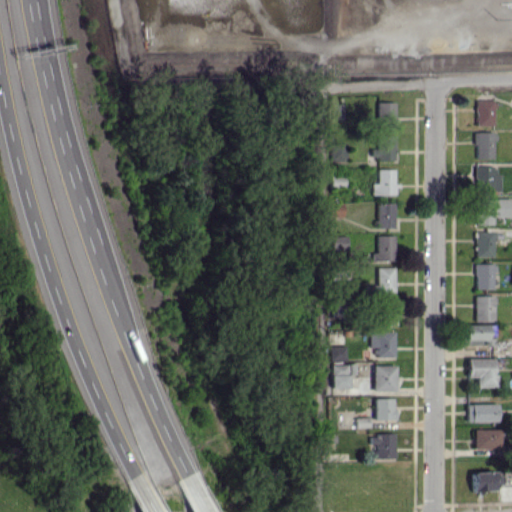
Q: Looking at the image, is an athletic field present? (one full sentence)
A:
No, the frame has no athletic field in it.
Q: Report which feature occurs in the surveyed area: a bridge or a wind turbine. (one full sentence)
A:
Looking from above, you can make out a bridge.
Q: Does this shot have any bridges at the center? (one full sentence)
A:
No, no bridge appears at the center.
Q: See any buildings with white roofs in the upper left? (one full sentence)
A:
No, I can find no building with a white roof in the upper left.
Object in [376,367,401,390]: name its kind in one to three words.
house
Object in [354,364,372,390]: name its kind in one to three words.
building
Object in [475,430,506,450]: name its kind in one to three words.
house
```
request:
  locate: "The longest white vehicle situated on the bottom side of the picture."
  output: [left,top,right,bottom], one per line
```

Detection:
[129,330,148,364]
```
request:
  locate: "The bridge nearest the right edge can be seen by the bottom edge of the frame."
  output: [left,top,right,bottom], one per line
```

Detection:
[180,470,223,512]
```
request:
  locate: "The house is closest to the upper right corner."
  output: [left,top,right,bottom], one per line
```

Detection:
[475,100,496,126]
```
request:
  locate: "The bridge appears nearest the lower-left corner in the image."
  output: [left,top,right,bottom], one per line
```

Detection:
[128,472,171,512]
